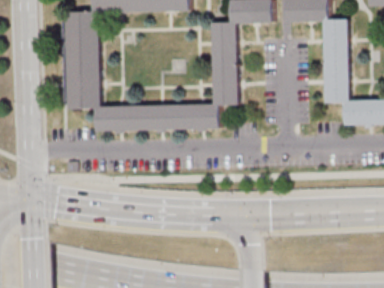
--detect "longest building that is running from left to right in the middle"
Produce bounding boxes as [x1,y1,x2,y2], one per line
[92,103,221,132]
